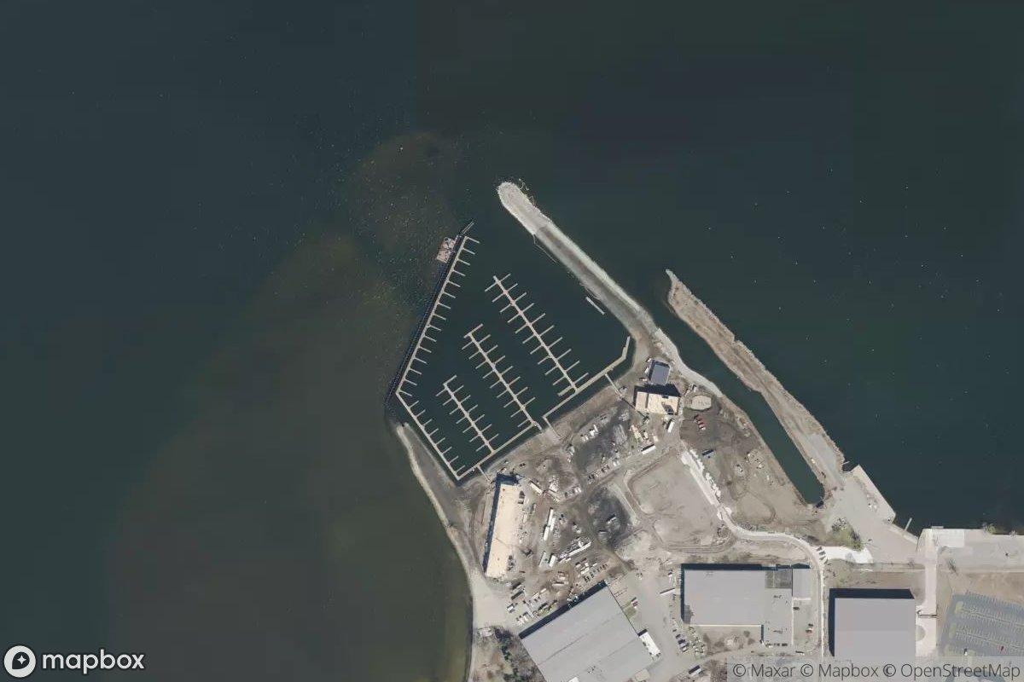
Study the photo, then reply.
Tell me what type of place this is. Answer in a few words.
port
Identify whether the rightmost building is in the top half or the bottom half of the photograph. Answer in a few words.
bottom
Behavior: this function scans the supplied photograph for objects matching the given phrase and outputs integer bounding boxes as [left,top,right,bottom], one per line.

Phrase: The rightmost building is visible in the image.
[835,599,916,658]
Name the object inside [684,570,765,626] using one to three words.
building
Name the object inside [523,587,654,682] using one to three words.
building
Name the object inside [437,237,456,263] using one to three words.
ship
